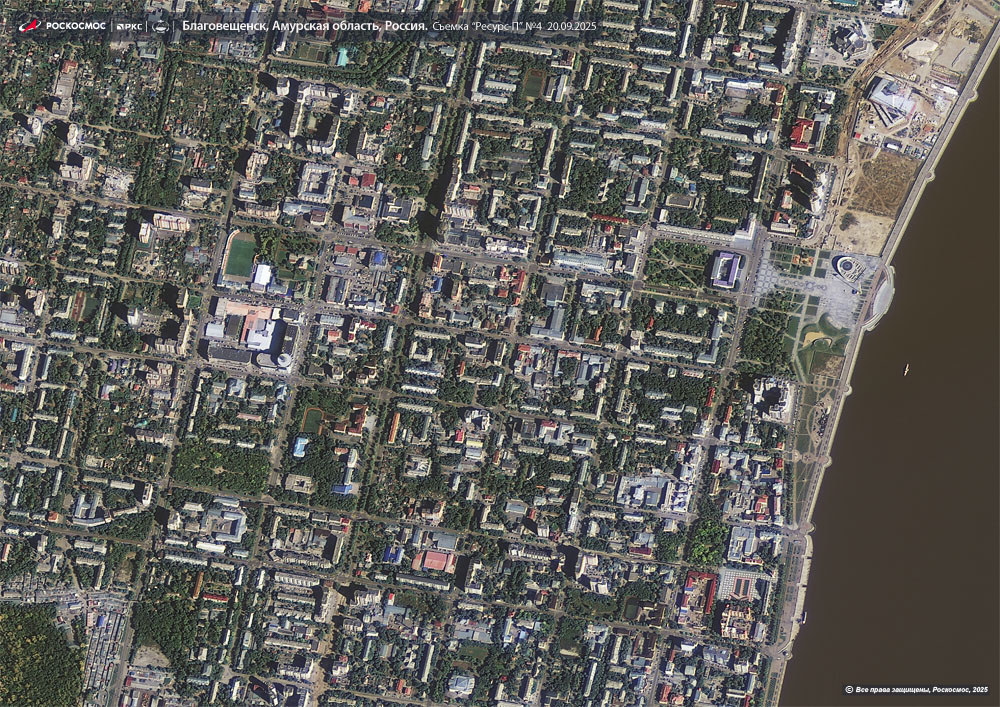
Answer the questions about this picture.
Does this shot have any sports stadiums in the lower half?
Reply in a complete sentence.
No, the scene shows no sports stadium in the lower half.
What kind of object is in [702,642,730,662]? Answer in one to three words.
building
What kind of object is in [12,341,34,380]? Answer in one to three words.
building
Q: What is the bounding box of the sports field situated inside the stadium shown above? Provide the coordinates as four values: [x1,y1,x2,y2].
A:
[226,238,256,277]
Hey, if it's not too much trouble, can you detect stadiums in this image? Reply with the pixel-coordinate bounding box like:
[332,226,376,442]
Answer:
[221,229,259,284]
